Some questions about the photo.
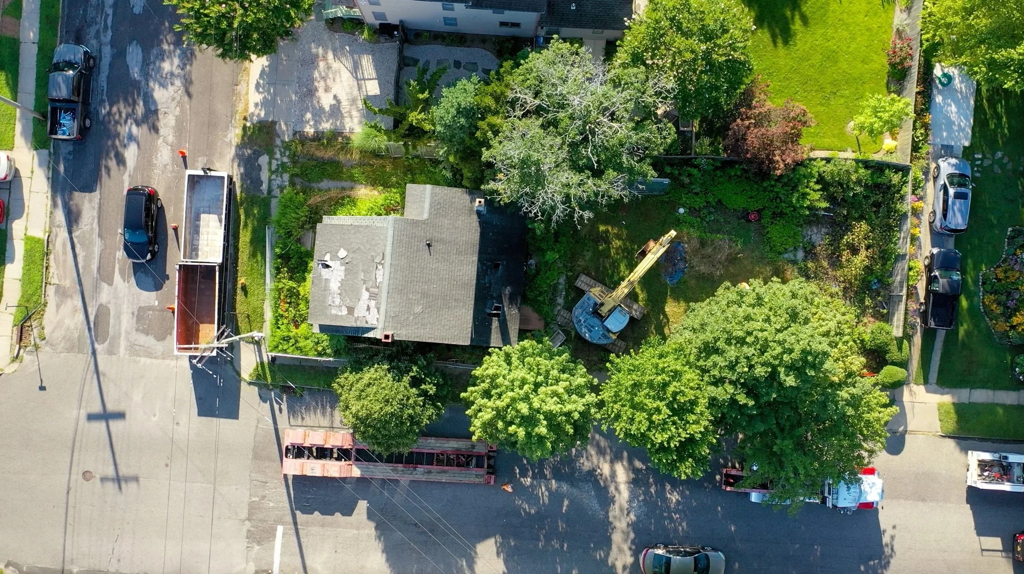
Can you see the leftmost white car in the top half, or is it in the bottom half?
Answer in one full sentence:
The leftmost white car is in the top half of the image.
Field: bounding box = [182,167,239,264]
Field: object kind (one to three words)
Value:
trailer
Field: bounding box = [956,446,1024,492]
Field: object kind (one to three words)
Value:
truck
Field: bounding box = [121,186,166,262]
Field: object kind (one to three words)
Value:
car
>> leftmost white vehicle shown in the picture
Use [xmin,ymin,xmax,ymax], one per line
[0,151,22,183]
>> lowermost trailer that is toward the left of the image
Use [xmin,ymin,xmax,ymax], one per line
[278,427,495,488]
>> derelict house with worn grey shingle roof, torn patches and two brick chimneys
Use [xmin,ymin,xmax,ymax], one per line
[308,184,544,347]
